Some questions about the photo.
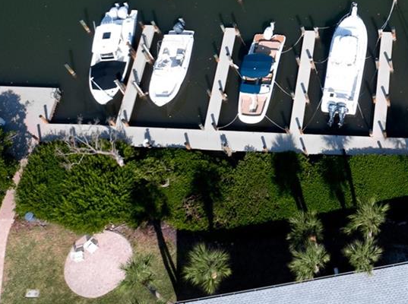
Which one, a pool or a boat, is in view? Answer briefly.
boat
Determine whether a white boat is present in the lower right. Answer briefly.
No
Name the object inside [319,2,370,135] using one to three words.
boat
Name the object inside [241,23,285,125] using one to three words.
boat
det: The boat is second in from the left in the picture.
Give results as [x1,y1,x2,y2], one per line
[152,18,197,109]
